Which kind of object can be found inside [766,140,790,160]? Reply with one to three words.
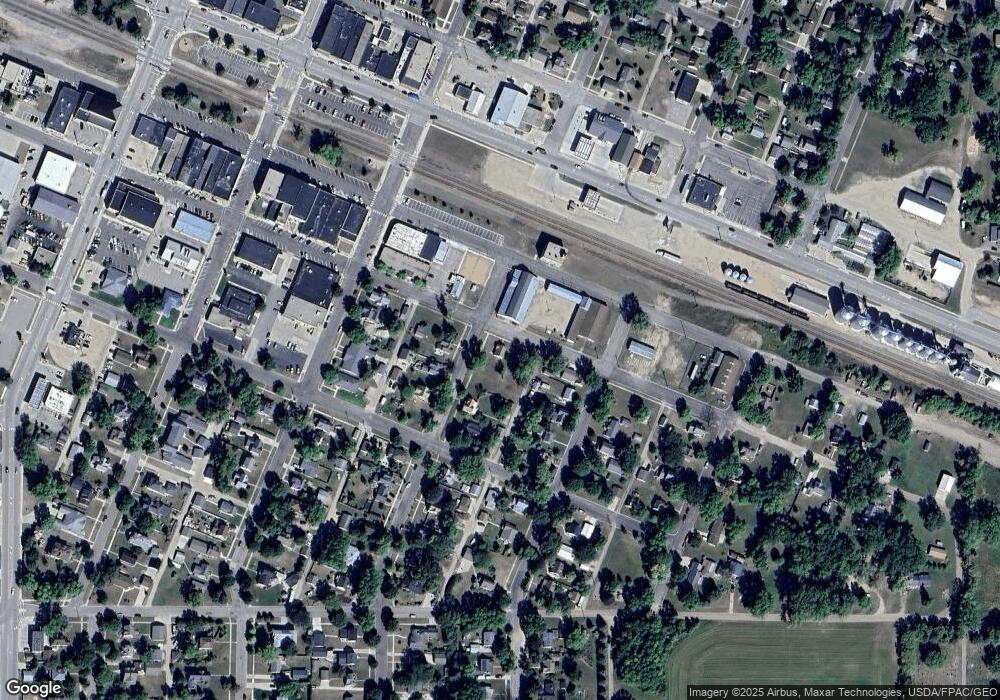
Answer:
house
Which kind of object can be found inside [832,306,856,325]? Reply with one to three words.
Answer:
silo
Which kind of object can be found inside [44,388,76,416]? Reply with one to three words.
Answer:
building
